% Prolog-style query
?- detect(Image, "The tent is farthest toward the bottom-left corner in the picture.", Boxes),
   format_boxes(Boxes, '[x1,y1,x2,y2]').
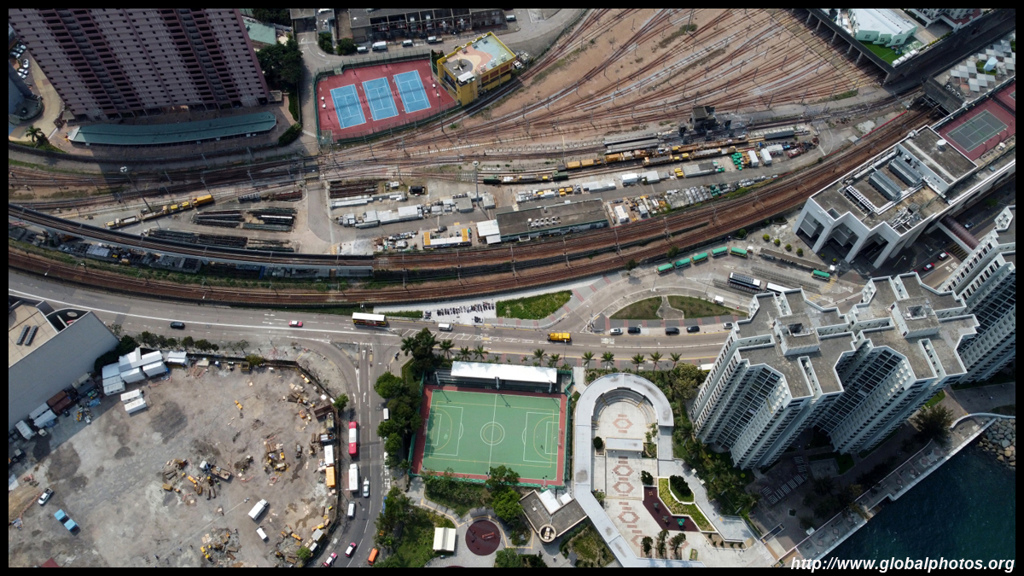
[433,527,456,552]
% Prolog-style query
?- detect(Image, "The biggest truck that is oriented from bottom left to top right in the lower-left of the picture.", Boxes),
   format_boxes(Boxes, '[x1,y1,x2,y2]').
[246,497,268,521]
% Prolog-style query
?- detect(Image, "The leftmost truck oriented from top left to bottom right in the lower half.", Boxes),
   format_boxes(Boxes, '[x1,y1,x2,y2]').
[52,509,76,533]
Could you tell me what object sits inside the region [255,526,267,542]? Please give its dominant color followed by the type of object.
white vehicle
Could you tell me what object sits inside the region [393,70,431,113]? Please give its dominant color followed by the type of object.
blue tennis court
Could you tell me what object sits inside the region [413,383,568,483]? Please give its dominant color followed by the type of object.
green soccer field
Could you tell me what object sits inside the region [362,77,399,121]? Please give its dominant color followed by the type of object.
blue tennis court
